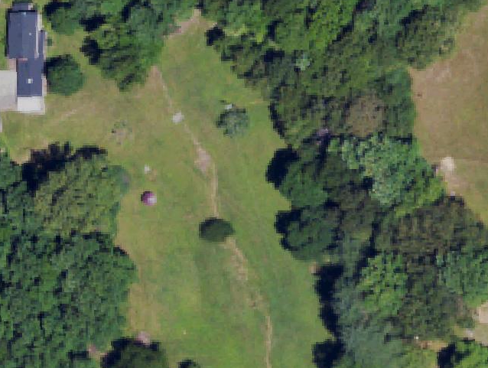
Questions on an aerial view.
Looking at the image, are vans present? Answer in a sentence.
No, the frame has no van in it.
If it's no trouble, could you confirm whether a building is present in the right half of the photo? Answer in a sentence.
No, looking in the right half of the photo, there is no building.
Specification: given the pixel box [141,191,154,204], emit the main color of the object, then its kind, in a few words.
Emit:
purple umbrella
